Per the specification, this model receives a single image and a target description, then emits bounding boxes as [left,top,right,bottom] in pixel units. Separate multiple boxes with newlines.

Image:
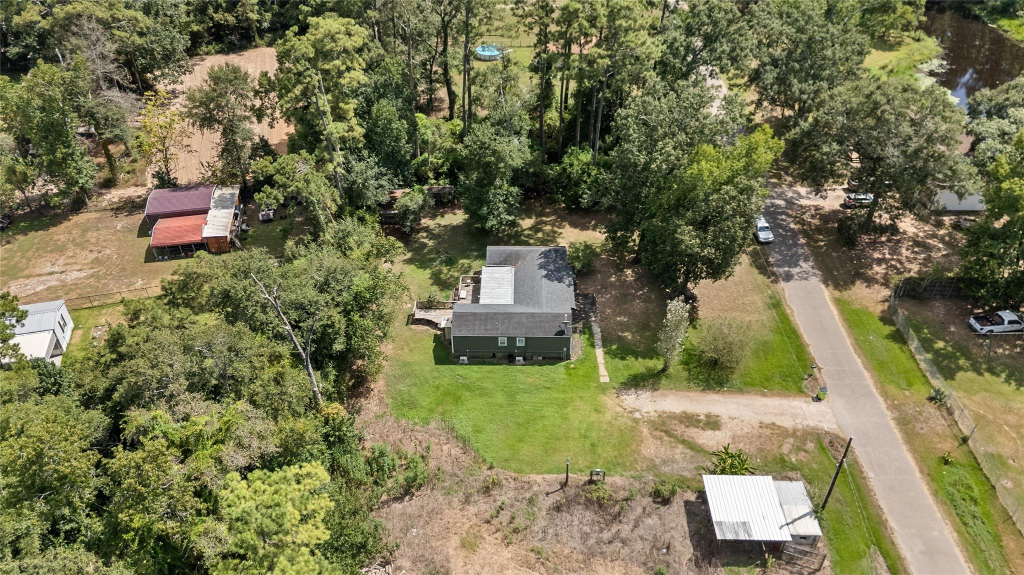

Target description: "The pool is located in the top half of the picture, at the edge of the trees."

[476,45,508,62]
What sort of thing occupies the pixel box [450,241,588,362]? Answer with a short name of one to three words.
house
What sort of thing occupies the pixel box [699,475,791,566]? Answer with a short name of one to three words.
shed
